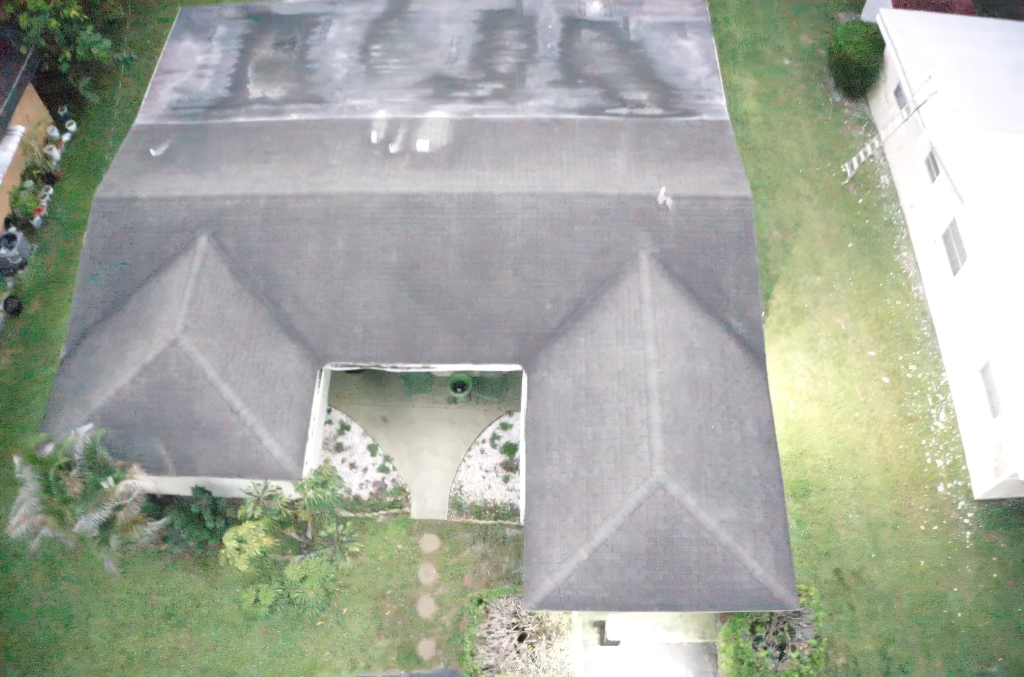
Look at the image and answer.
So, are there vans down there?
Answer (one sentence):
No, no van is visible in the scene.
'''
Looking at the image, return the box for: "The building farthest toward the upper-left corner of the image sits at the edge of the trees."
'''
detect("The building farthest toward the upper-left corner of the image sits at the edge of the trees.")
[34,0,804,617]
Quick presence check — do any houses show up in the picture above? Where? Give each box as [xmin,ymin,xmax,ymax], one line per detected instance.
[34,0,804,617]
[863,11,1024,501]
